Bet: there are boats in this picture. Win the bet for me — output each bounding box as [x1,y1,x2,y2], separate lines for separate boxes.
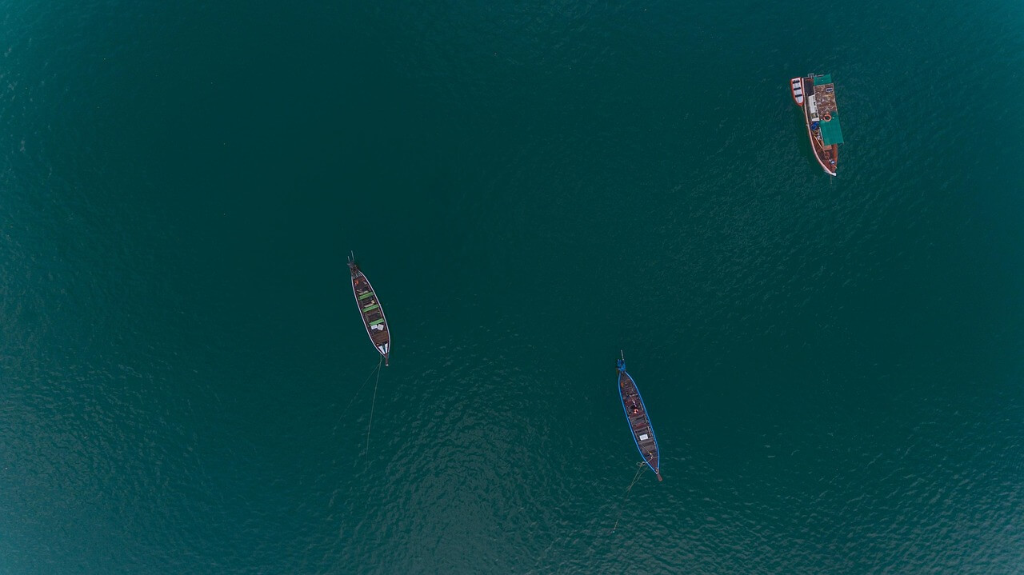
[347,253,390,369]
[790,77,804,107]
[615,349,662,482]
[801,73,844,177]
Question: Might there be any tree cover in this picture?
No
